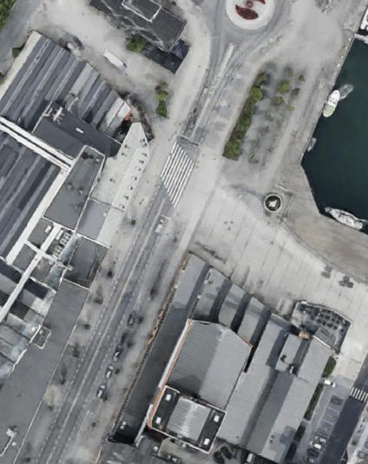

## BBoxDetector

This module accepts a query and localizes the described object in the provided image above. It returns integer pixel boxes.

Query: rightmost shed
[223,312,332,454]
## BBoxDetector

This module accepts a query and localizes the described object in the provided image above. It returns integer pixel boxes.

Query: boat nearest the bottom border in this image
[326,207,365,230]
